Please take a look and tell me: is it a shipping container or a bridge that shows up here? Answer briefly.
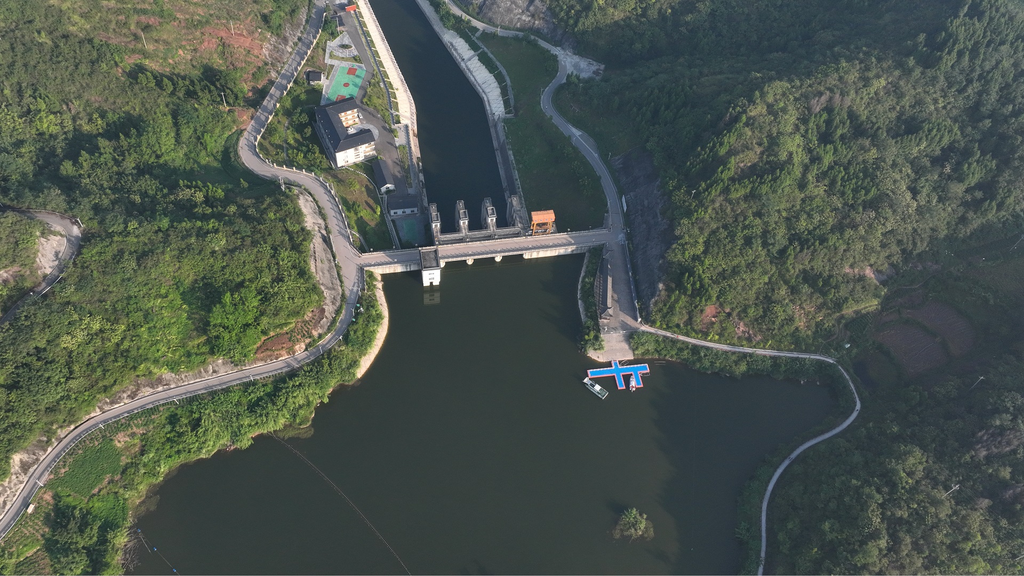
bridge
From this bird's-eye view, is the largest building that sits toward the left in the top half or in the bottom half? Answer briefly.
top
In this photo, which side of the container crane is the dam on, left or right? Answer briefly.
left of it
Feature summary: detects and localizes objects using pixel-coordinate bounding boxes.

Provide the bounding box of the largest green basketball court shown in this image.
[329,66,366,102]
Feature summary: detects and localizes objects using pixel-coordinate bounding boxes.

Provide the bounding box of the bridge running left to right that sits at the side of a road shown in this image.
[360,230,609,275]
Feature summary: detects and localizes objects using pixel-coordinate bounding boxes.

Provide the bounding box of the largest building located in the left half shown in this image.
[315,97,378,168]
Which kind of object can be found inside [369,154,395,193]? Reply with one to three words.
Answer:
shed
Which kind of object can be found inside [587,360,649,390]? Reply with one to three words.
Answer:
pier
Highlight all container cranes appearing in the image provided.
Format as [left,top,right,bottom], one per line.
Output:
[530,210,555,236]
